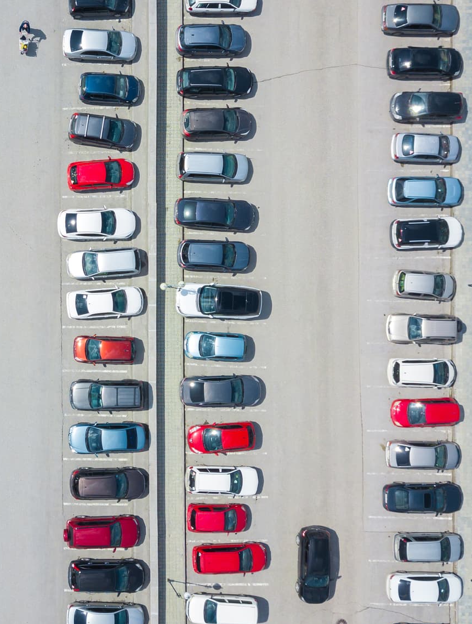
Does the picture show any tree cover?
No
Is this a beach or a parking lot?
parking lot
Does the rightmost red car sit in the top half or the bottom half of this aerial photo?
bottom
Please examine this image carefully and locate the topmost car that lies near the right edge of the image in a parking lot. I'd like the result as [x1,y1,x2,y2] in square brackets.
[380,0,460,40]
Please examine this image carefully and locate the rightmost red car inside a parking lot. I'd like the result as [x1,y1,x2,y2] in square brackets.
[389,393,462,432]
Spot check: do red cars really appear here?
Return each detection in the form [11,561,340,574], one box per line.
[192,538,266,576]
[389,393,462,432]
[74,332,134,368]
[187,419,255,458]
[67,155,134,193]
[187,500,246,536]
[64,511,140,552]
